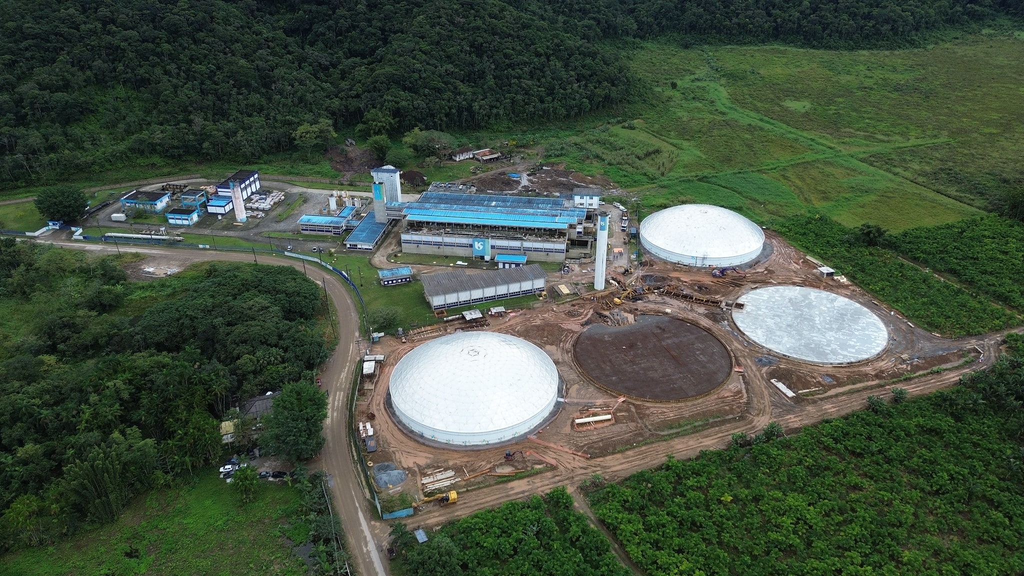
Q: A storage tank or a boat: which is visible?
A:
storage tank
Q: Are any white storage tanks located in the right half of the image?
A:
Yes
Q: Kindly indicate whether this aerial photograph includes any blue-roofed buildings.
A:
Yes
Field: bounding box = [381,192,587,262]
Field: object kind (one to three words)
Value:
building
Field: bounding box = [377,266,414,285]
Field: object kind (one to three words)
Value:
shed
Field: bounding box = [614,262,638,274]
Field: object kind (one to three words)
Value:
vehicle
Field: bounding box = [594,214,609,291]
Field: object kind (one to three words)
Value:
water tower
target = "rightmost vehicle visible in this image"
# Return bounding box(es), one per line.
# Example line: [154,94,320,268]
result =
[713,263,747,277]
